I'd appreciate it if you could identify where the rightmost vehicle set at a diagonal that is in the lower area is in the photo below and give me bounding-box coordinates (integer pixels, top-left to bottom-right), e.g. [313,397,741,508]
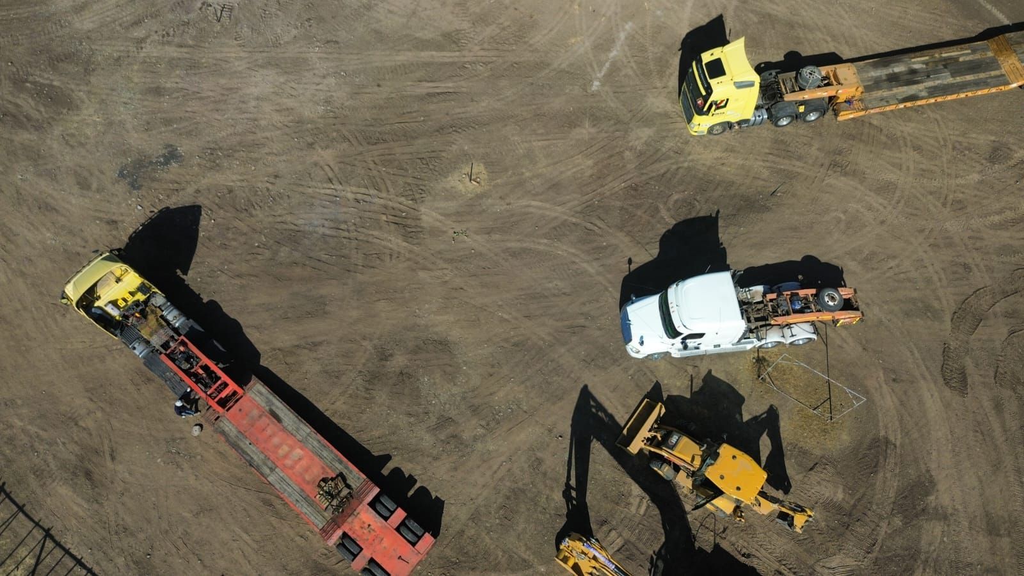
[614,397,816,536]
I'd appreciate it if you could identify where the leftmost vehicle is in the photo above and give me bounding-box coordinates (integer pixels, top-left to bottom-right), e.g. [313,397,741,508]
[61,246,237,403]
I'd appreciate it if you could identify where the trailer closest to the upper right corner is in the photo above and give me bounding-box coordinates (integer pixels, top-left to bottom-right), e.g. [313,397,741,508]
[771,36,1024,114]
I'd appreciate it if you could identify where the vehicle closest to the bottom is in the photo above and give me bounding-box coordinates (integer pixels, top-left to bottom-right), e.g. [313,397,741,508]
[559,522,631,576]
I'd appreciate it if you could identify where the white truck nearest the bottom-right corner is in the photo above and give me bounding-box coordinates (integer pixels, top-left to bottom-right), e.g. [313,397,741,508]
[620,262,844,358]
